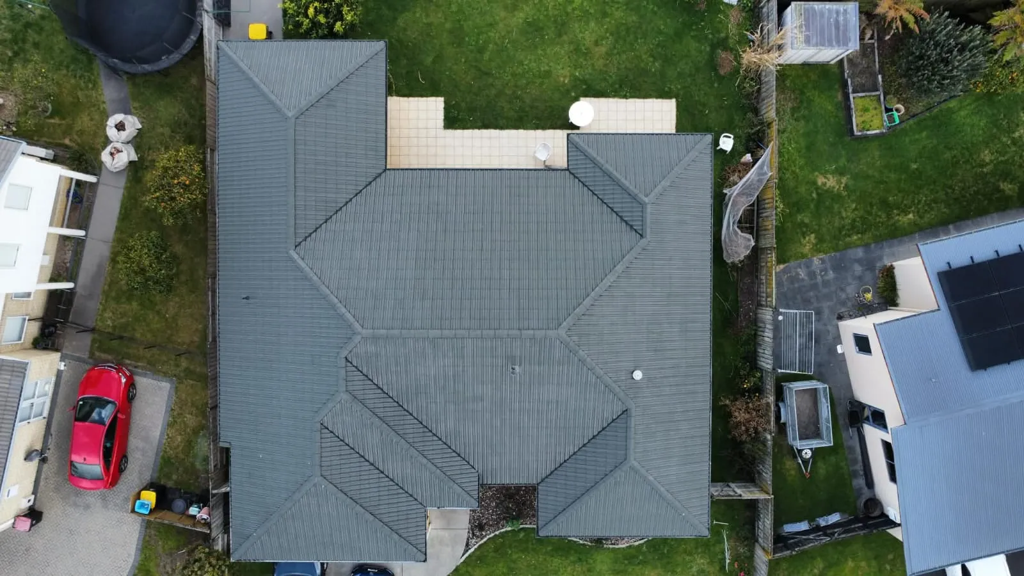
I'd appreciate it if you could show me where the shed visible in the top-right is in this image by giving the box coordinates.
[776,1,860,67]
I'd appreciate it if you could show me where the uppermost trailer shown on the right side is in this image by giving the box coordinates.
[775,382,833,482]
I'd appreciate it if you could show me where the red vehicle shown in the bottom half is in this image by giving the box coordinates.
[65,363,139,494]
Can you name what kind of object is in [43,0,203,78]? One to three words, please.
trampoline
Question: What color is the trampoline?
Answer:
black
